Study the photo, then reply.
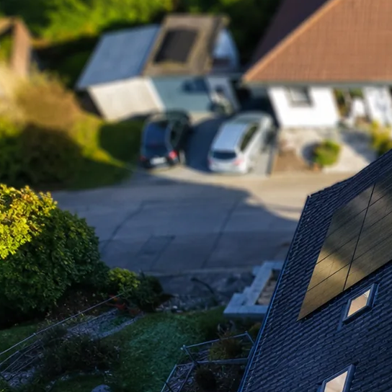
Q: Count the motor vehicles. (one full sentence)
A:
My tally gives 2 motor vehicles in this view.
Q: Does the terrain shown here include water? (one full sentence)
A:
No, water can't be seen anywhere here.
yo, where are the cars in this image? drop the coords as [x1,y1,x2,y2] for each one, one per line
[208,100,282,170]
[146,101,212,160]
